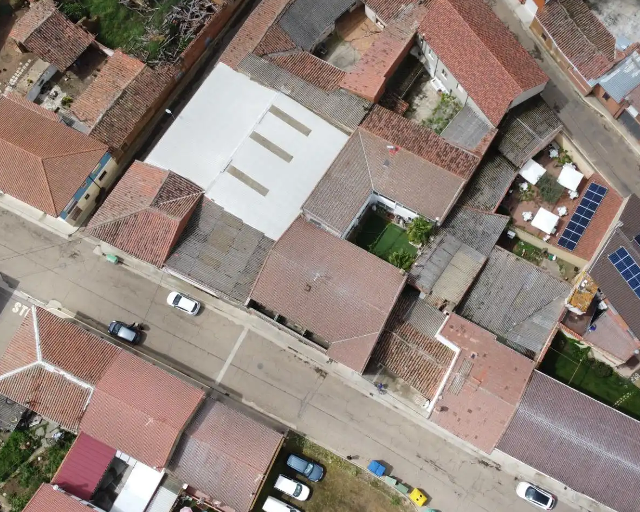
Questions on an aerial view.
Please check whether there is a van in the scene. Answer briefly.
Yes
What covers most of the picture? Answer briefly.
buildings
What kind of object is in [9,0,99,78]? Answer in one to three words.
barn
